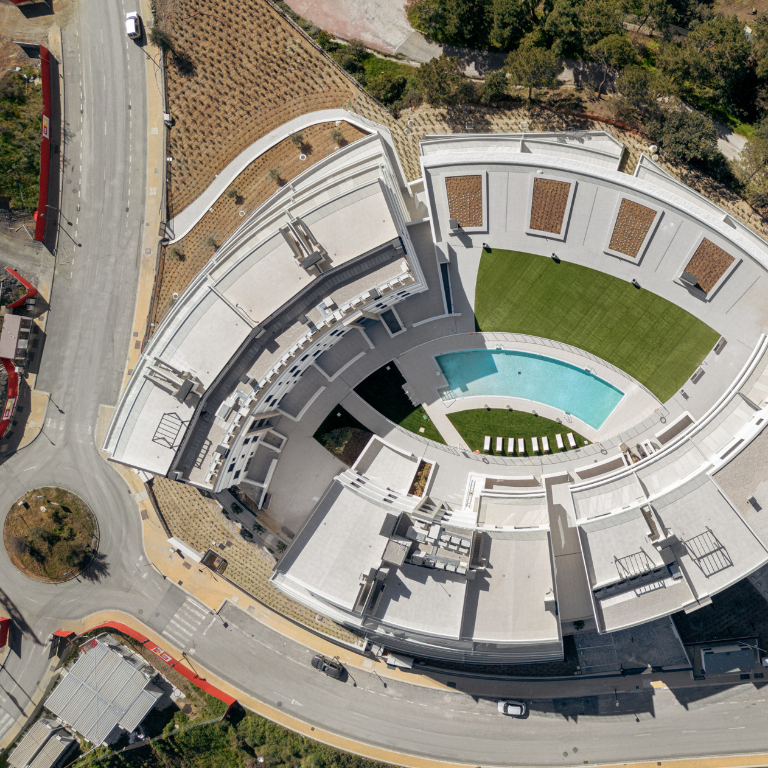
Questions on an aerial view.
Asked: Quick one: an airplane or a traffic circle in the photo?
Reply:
traffic circle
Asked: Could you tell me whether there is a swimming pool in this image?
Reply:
Yes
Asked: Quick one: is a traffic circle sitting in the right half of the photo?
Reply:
No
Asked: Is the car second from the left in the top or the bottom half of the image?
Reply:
bottom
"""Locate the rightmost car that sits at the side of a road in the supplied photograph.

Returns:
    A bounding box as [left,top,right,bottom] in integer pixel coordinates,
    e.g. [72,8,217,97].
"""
[494,702,527,720]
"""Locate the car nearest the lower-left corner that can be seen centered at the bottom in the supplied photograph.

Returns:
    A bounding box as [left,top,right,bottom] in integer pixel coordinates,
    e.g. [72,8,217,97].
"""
[307,650,343,679]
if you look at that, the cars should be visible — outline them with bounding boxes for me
[307,650,343,679]
[494,702,527,720]
[119,8,138,41]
